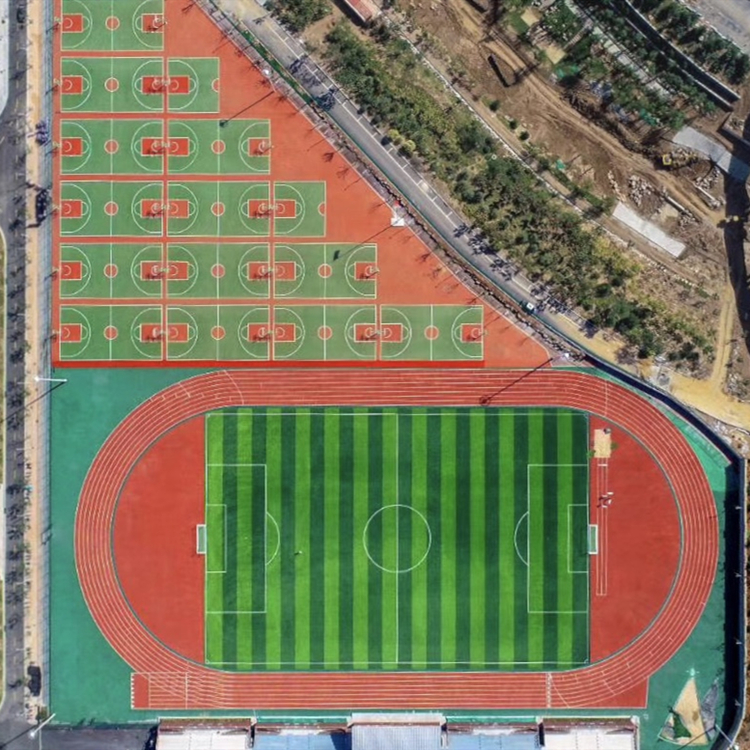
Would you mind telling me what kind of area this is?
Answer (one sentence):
This image shows a sports ground.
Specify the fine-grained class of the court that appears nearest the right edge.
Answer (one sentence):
Specifically, the court that appears nearest the right edge is a basketball court.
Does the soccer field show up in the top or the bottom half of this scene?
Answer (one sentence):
The soccer field sits in the bottom half of the picture.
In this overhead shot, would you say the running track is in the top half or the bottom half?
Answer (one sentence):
The running track sits in the bottom half of the picture.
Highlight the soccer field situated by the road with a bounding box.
[197,408,597,670]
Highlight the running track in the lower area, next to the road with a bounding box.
[74,369,719,709]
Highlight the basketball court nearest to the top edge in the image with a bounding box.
[61,0,164,51]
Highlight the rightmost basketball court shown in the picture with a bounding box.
[379,304,483,360]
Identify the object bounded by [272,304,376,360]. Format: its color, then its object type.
green basketball court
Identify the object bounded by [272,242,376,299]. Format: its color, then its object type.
green basketball court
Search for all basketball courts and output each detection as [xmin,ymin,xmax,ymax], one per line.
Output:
[166,242,270,299]
[272,242,376,299]
[166,180,270,237]
[59,304,163,360]
[167,56,220,113]
[167,118,270,175]
[61,0,164,51]
[59,242,163,299]
[379,304,483,360]
[272,304,376,360]
[273,180,326,237]
[60,180,163,237]
[60,118,163,175]
[61,56,164,113]
[166,304,270,360]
